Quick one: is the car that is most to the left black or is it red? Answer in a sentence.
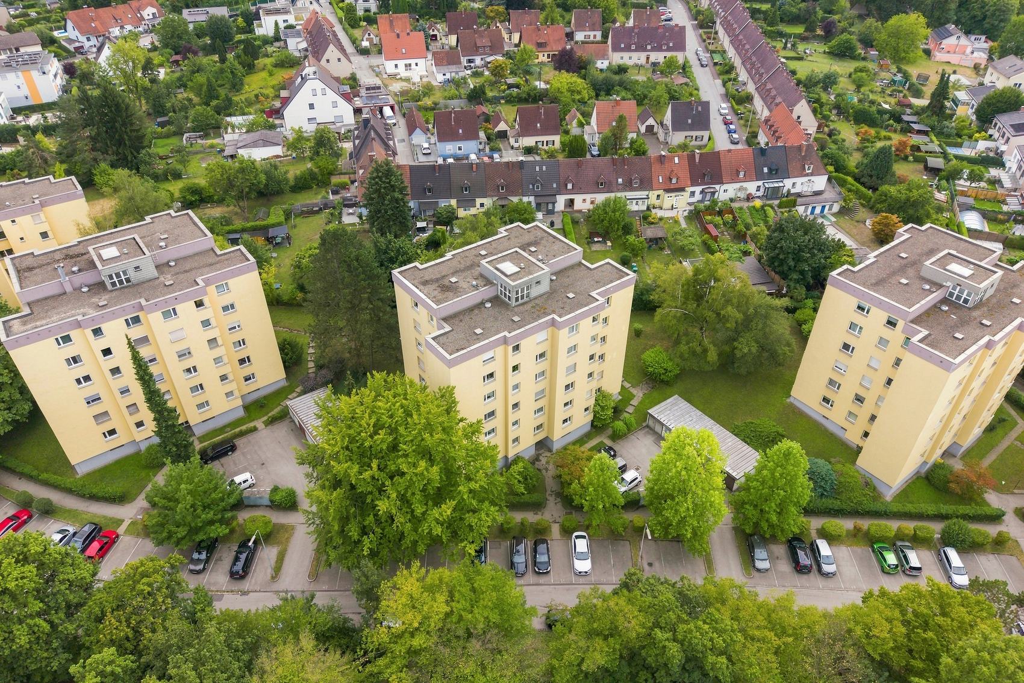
The color of the car that is most to the left is red.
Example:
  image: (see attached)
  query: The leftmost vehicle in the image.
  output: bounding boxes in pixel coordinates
[0,509,32,543]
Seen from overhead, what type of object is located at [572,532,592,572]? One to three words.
car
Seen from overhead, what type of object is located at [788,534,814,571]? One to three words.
car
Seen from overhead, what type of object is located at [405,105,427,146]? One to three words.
building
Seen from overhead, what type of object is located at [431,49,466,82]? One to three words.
shed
